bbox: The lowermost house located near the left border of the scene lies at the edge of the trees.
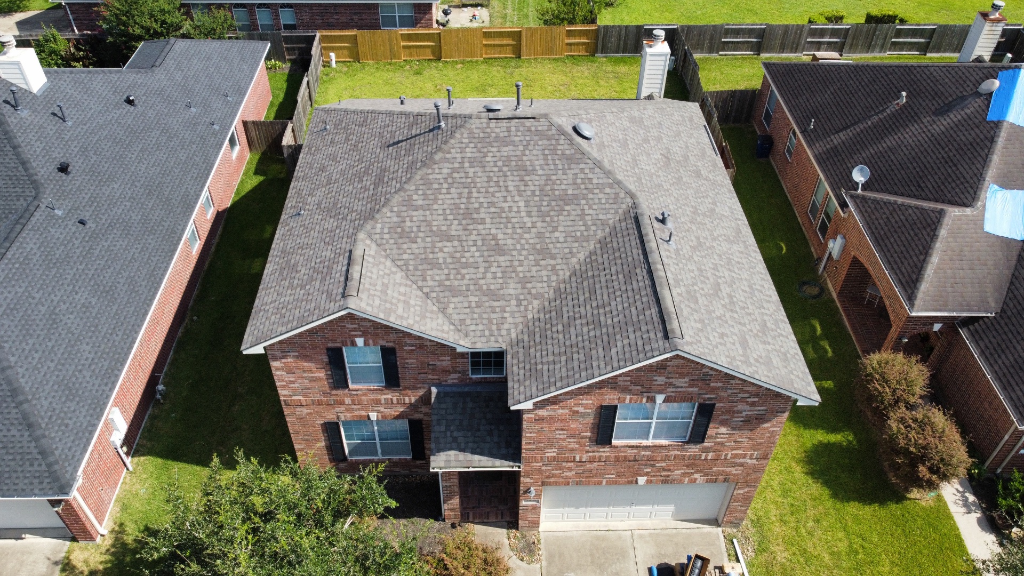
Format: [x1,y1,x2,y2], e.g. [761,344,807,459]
[0,32,271,540]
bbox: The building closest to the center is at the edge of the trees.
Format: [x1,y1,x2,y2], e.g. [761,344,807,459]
[242,26,820,532]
